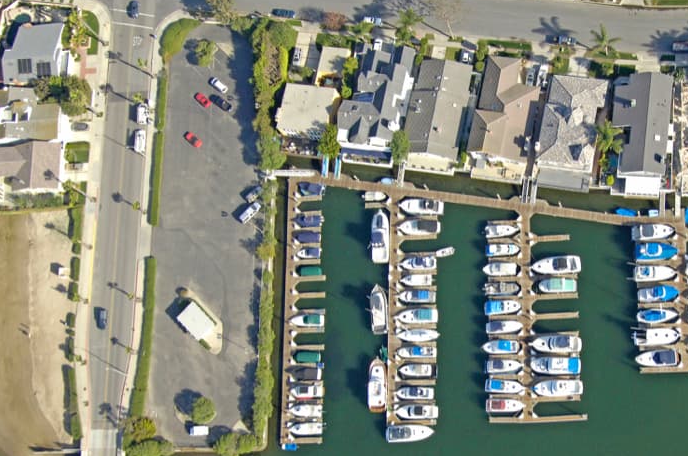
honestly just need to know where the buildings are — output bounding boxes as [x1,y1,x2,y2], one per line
[2,23,71,88]
[178,302,215,340]
[0,143,68,203]
[609,74,673,196]
[467,57,540,184]
[405,61,472,176]
[337,46,416,170]
[0,88,67,143]
[276,47,351,144]
[537,75,609,192]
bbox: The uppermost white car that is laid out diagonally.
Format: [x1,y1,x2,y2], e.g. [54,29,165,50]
[208,77,226,93]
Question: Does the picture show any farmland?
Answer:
No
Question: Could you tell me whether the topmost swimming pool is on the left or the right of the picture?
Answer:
left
